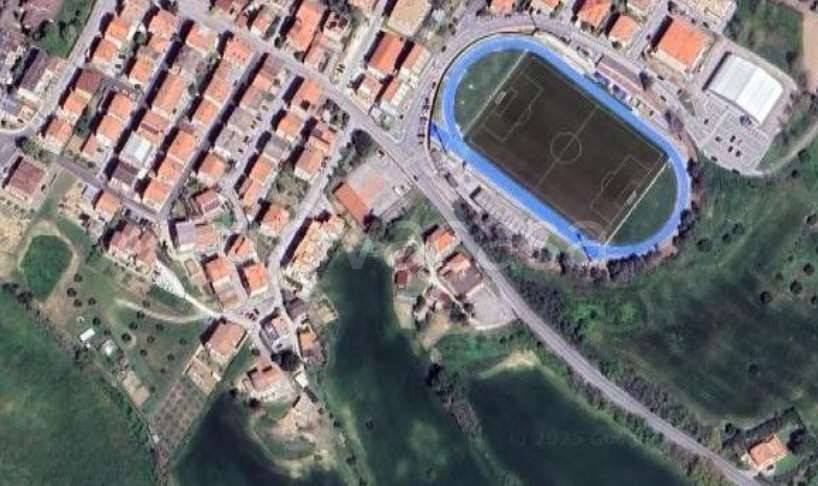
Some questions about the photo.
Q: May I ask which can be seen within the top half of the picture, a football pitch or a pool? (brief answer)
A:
football pitch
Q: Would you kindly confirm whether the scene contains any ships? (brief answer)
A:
No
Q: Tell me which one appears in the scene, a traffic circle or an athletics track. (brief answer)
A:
athletics track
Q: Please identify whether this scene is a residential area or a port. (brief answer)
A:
residential area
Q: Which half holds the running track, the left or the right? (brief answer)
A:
right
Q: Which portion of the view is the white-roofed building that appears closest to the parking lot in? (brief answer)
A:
top right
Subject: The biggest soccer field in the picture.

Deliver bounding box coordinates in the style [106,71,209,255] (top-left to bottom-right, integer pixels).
[460,51,670,246]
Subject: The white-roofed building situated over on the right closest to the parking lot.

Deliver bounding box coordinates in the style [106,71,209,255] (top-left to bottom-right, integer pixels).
[705,56,784,124]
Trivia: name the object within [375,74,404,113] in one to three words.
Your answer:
house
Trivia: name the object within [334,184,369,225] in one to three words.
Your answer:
shed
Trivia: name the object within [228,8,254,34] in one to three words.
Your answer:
house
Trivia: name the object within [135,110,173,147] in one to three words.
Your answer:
building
